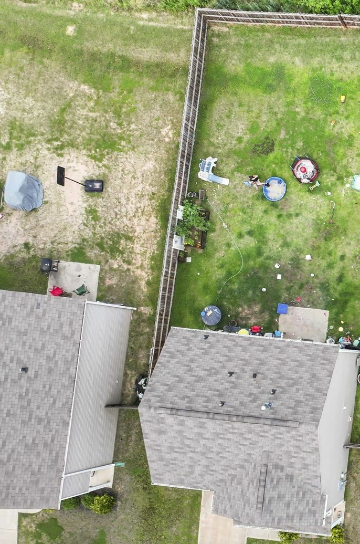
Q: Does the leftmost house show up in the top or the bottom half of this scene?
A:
bottom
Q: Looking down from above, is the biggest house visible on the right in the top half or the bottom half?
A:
bottom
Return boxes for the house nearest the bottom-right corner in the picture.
[142,326,359,535]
